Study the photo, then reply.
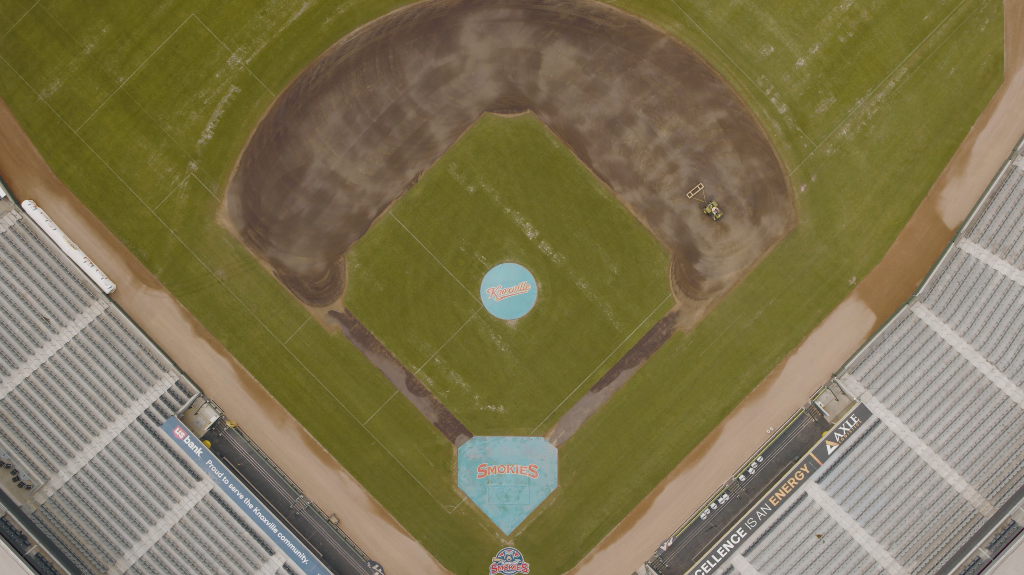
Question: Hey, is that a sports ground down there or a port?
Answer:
sports ground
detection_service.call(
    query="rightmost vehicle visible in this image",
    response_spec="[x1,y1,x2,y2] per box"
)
[702,199,724,222]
